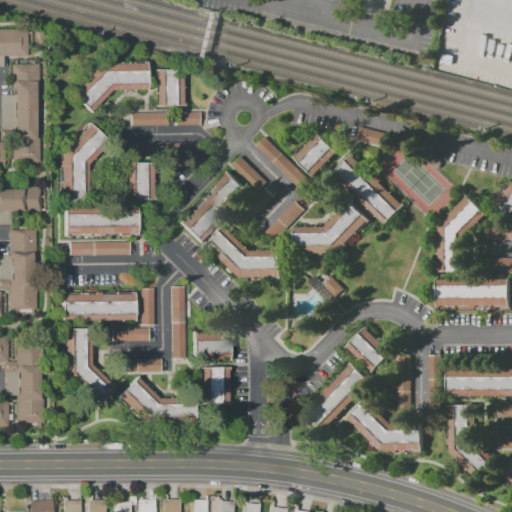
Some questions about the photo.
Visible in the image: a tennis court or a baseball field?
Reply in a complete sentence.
I can see a tennis court in this picture.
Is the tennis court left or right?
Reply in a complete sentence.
The tennis court appears in the right half of the scene.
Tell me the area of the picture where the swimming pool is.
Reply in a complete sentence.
You can find the swimming pool in the center area of the picture.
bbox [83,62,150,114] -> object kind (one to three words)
building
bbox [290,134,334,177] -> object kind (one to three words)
building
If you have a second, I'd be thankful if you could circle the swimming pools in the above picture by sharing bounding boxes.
[296,292,323,314]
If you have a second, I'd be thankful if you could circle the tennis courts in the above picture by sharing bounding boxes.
[381,154,456,214]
